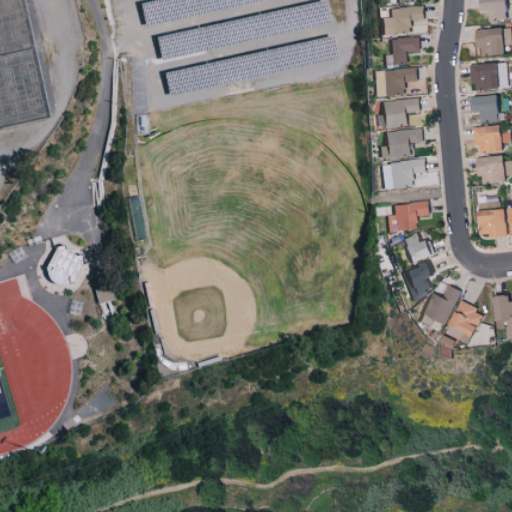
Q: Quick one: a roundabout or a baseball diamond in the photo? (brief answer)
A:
baseball diamond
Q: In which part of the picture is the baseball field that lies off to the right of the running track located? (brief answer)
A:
center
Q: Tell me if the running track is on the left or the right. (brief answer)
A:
left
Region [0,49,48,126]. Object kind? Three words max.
tennis court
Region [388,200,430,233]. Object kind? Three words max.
house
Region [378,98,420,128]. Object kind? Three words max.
house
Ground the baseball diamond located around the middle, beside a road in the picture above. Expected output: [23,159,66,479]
[139,119,367,366]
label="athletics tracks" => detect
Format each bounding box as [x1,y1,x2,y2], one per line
[0,279,74,454]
